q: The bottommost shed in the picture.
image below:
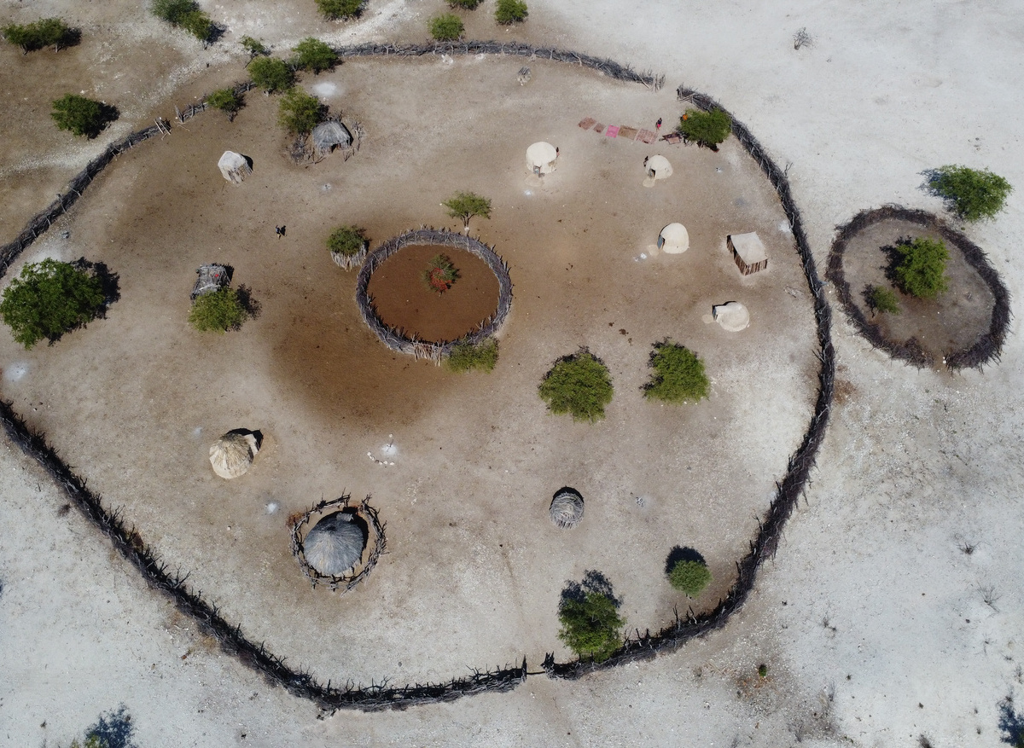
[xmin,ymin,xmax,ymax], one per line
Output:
[305,513,363,577]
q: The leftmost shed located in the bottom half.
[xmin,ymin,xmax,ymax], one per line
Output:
[205,434,274,479]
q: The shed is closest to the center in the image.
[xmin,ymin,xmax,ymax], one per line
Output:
[549,489,583,529]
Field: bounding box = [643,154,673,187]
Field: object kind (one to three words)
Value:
shed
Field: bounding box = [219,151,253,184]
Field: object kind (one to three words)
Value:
shed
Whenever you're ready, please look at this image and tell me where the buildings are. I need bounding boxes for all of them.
[305,513,363,577]
[651,225,691,256]
[703,303,751,333]
[549,489,583,529]
[643,154,673,187]
[725,232,767,275]
[524,147,555,183]
[205,434,274,479]
[219,151,253,184]
[311,122,352,154]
